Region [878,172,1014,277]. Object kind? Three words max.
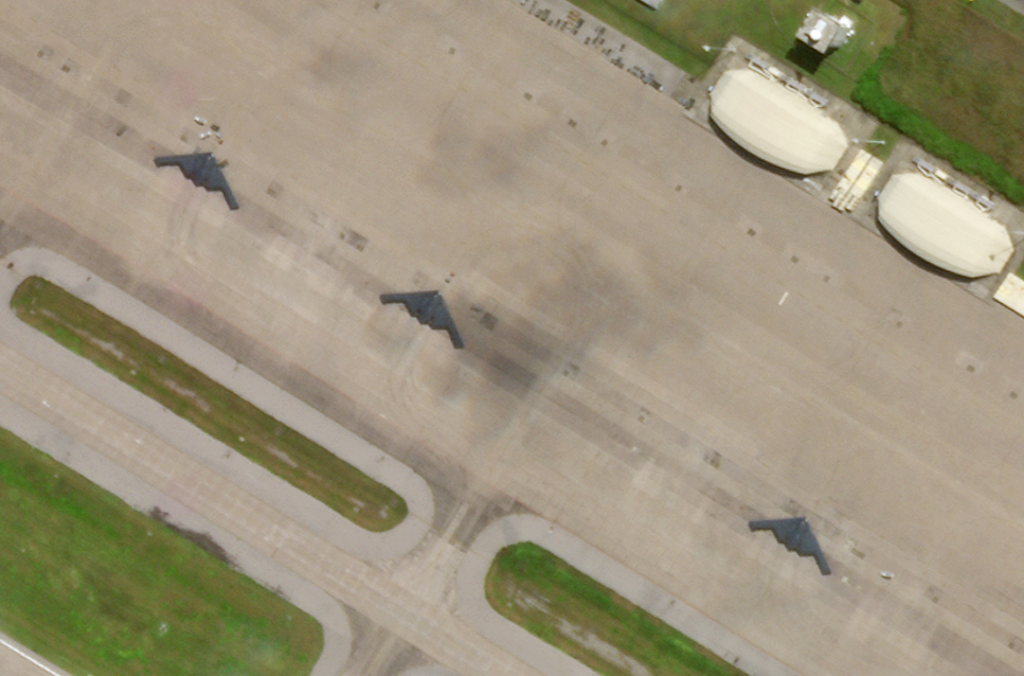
hangar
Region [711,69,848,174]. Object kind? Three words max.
hangar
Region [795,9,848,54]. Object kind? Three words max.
building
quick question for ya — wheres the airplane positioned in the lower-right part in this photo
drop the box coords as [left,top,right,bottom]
[747,517,831,574]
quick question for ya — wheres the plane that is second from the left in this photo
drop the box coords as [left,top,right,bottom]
[380,291,464,347]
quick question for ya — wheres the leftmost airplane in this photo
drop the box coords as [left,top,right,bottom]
[154,153,239,209]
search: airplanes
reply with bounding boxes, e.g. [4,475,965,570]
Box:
[380,291,464,347]
[747,517,831,574]
[154,153,239,209]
